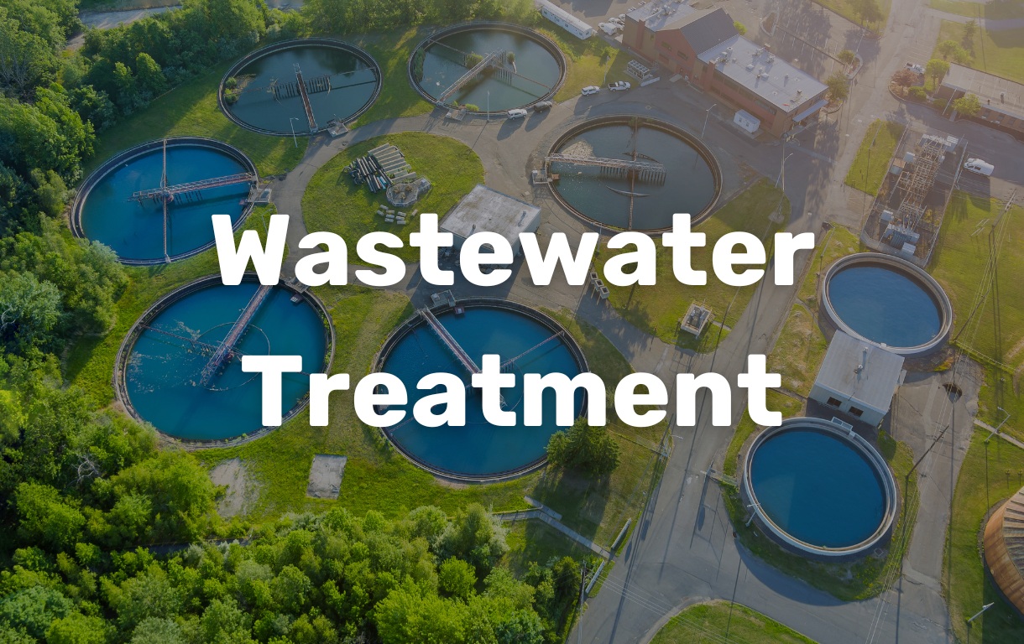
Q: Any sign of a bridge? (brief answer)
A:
Yes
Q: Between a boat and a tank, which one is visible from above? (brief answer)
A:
tank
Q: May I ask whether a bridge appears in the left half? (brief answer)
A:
Yes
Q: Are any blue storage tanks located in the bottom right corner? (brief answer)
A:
Yes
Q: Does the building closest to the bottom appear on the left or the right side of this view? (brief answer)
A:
right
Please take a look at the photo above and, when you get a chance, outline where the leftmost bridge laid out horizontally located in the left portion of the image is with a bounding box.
[118,163,260,208]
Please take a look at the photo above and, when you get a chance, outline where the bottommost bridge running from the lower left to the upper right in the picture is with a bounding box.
[197,268,285,385]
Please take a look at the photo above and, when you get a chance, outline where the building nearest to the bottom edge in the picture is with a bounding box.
[811,331,907,426]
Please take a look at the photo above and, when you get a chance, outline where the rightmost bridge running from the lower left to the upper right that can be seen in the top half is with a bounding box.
[434,45,504,105]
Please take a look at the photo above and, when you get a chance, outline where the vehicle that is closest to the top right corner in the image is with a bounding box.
[905,59,928,74]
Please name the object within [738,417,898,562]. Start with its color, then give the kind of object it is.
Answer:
blue storage tank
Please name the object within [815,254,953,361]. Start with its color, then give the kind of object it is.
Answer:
blue storage tank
